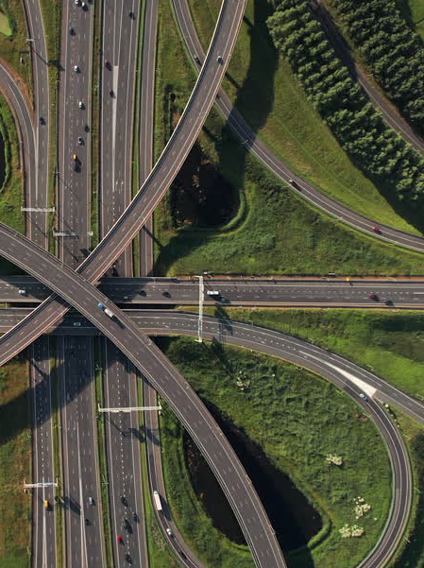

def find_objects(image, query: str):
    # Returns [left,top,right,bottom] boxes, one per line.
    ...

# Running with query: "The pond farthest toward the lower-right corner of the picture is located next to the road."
[183,401,322,551]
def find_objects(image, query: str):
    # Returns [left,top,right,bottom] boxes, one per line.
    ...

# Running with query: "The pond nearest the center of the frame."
[169,146,240,228]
